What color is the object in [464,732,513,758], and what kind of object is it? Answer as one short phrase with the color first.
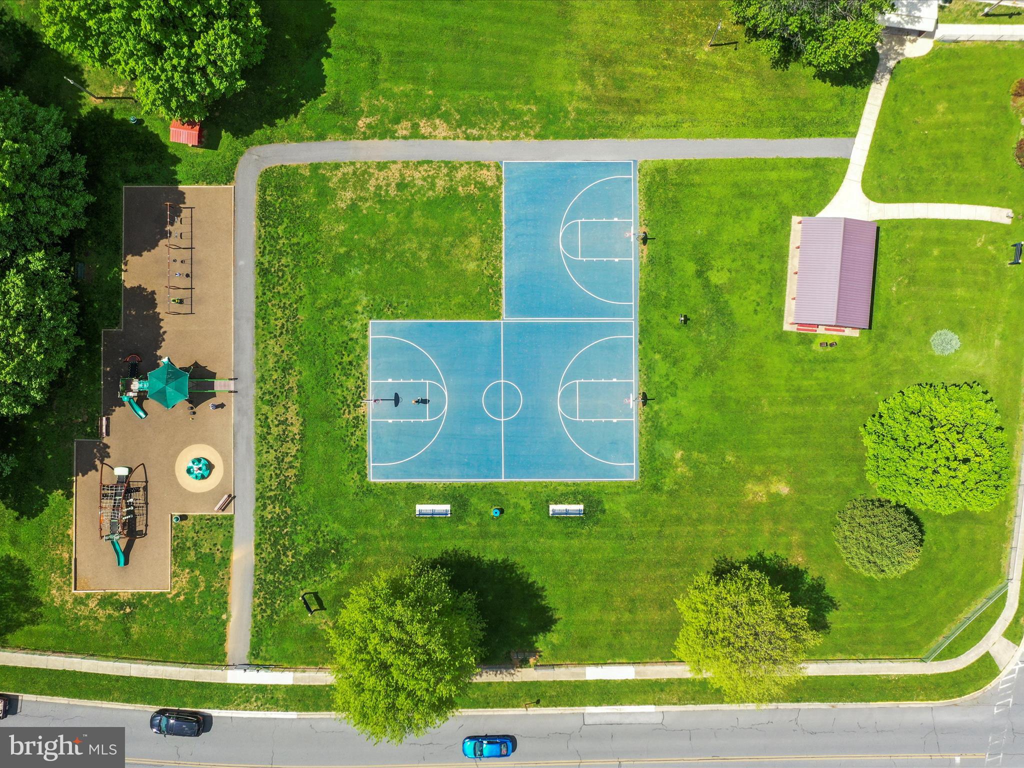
blue car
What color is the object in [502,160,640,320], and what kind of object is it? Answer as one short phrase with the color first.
blue basketball court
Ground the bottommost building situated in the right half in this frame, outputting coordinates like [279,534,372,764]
[784,216,876,336]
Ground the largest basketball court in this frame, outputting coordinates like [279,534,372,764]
[368,320,640,482]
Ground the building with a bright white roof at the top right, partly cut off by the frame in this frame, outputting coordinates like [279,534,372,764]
[876,0,939,38]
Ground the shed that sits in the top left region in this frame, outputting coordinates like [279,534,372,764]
[168,118,206,150]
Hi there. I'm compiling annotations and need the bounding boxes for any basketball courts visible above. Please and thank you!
[502,160,640,320]
[368,320,640,482]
